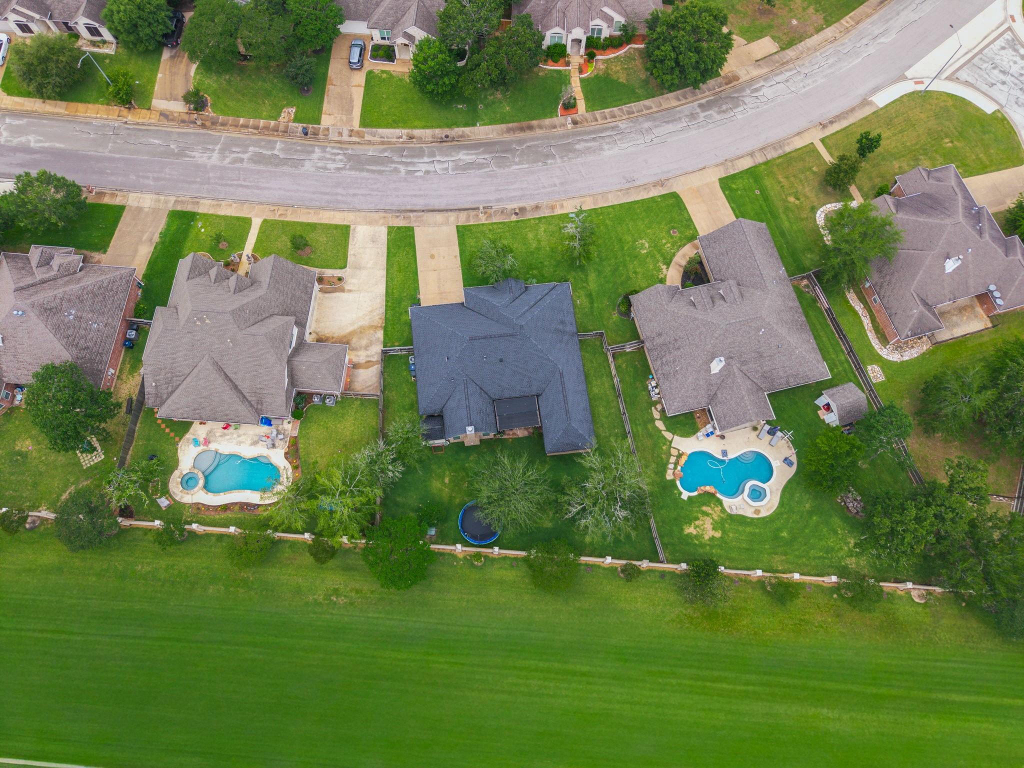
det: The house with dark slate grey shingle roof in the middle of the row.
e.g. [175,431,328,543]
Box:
[409,278,596,457]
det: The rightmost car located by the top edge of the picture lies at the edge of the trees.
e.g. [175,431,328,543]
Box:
[345,38,364,70]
